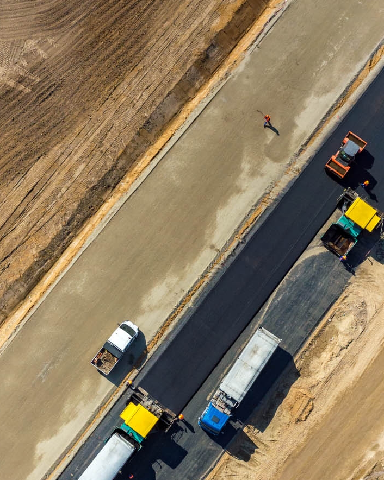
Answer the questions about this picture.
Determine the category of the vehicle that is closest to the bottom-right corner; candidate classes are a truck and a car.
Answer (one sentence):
The vehicle that is closest to the bottom-right corner in the image is a truck.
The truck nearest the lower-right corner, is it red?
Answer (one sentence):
No, from above the truck nearest the lower-right corner looks white.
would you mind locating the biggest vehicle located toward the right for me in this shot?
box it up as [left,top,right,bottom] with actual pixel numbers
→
[195,325,283,440]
